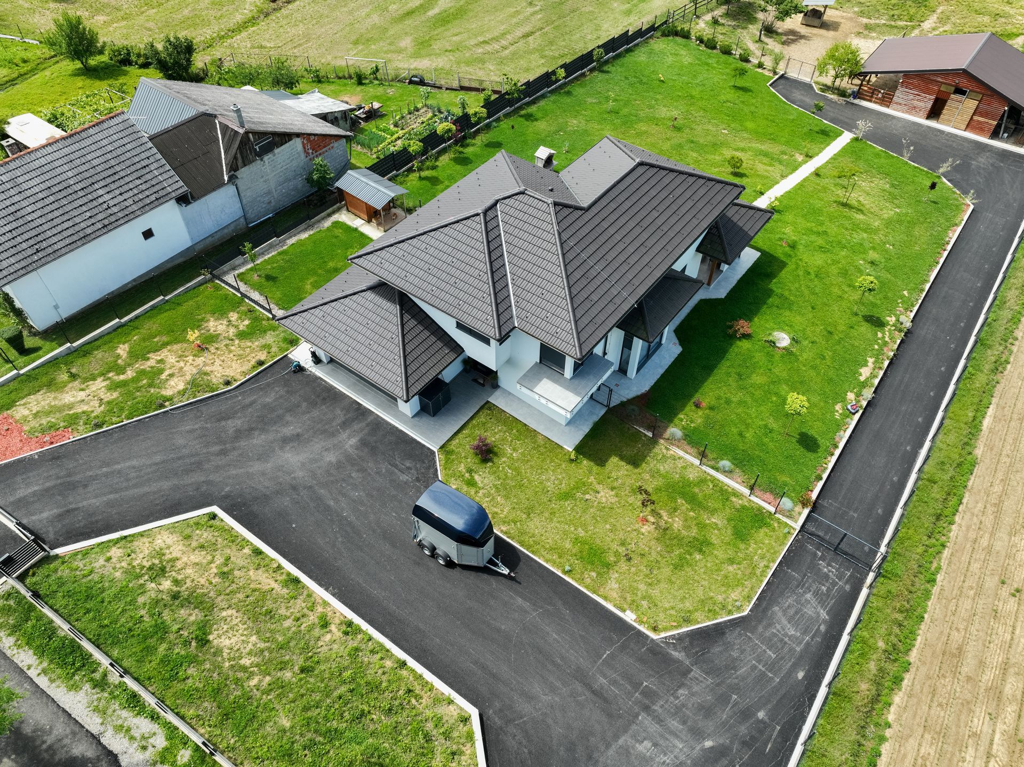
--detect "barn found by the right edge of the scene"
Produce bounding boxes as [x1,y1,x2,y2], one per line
[855,33,1024,147]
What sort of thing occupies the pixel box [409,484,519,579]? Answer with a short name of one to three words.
trailer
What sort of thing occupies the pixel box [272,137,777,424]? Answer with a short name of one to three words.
house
